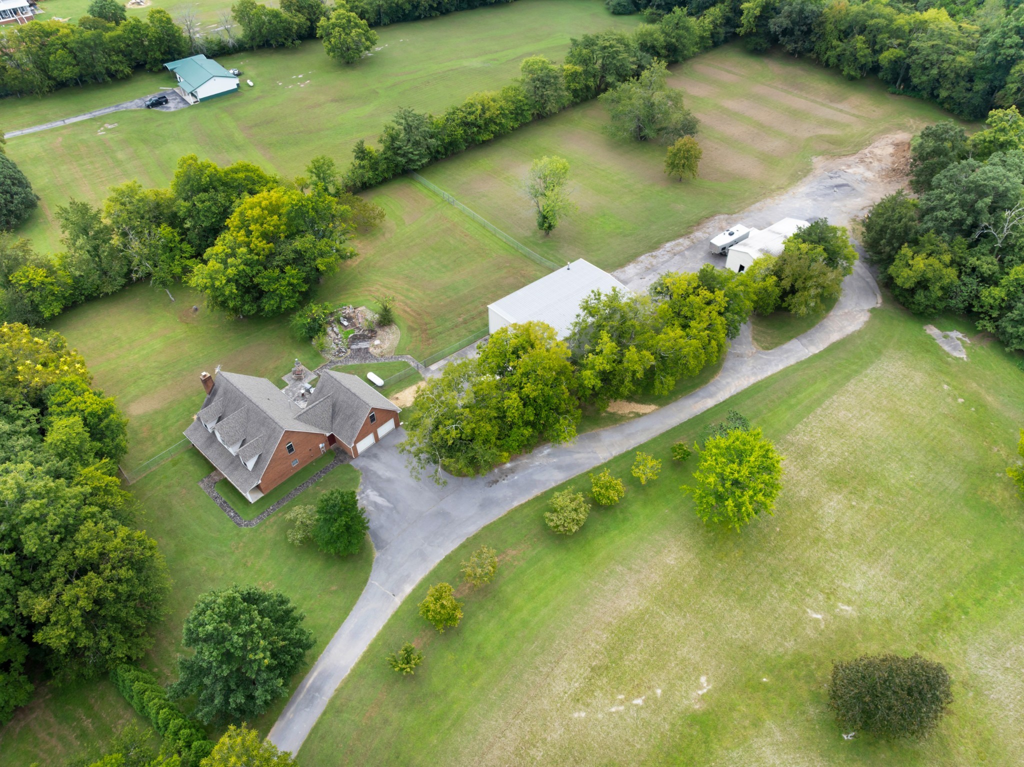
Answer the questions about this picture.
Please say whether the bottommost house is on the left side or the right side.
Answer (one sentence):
The bottommost house is on the left side of the image.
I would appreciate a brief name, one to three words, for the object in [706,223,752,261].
vehicle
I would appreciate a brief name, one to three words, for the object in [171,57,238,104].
building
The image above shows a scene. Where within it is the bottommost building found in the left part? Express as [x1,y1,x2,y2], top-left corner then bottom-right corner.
[181,365,402,505]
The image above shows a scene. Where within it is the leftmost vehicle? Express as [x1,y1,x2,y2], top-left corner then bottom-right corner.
[142,95,171,108]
